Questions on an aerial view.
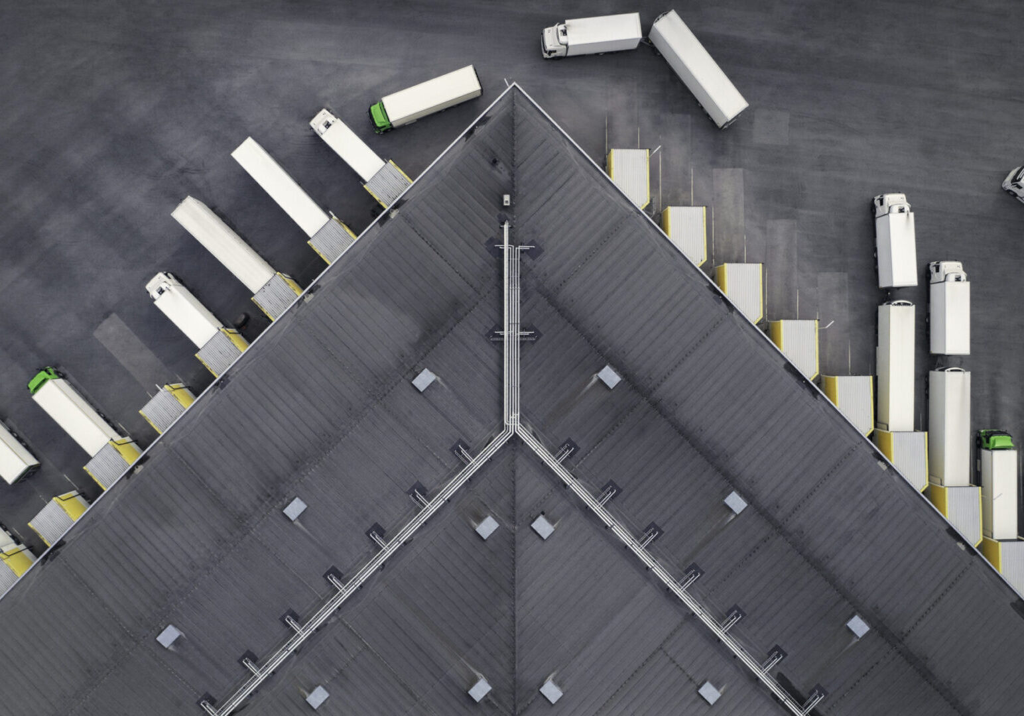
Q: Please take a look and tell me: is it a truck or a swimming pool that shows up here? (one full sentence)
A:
I can see a truck in this picture.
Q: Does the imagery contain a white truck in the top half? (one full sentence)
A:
Yes, the scene does show a white truck in the top half.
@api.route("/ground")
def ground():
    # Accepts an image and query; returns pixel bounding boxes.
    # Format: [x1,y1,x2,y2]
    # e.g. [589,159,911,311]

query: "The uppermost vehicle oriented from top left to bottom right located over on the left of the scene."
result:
[309,107,385,182]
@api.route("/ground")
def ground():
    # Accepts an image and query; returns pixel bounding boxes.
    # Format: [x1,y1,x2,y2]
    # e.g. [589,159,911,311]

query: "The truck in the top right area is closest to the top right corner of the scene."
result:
[1002,172,1024,210]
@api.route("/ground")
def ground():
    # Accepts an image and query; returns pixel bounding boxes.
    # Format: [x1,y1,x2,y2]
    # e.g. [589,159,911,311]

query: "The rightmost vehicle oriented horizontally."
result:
[542,12,642,60]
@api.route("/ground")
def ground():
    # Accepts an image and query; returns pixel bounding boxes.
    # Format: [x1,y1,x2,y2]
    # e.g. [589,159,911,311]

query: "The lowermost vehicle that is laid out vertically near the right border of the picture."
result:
[970,424,1018,538]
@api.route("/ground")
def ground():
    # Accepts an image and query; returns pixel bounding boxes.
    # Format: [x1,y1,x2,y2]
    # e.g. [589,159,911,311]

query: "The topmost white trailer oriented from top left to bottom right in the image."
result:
[645,9,748,129]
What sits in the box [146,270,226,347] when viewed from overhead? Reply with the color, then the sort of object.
white truck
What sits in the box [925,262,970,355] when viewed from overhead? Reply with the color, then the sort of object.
white truck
